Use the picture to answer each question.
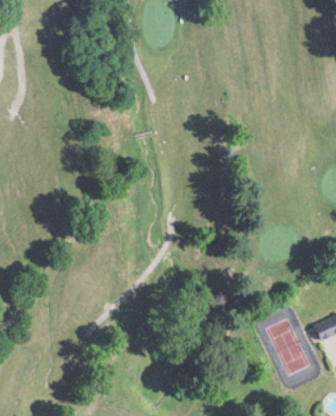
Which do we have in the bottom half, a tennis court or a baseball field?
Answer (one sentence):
It is a tennis court that can be seen in the bottom half.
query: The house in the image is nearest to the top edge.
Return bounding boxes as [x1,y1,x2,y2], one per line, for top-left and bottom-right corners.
[314,312,336,340]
